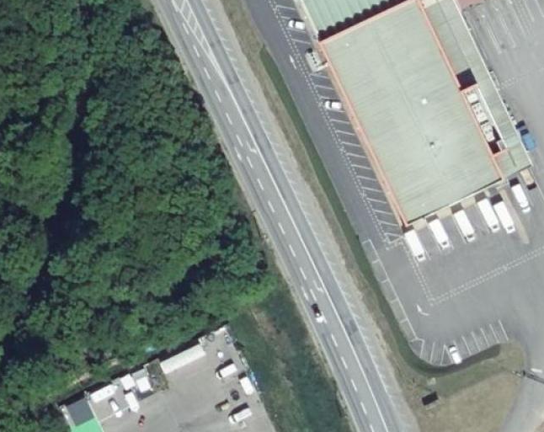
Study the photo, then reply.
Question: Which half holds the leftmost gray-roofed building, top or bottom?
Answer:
bottom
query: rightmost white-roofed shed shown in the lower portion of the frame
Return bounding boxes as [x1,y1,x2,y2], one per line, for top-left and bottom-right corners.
[160,345,206,373]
